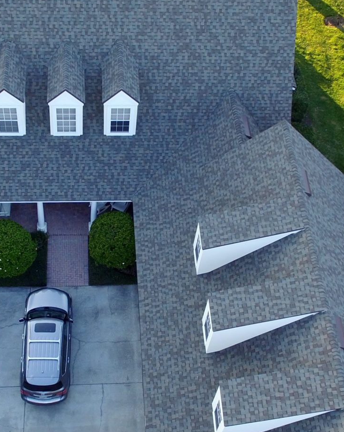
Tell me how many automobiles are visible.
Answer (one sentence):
Altogether the scene contains 1 automobile.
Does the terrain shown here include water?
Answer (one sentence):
No, the picture contains no water.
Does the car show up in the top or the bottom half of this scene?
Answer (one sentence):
The bottom half of the photo is where the car is.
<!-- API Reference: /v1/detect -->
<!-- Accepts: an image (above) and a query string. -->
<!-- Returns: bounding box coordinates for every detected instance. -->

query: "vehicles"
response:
[15,288,74,405]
